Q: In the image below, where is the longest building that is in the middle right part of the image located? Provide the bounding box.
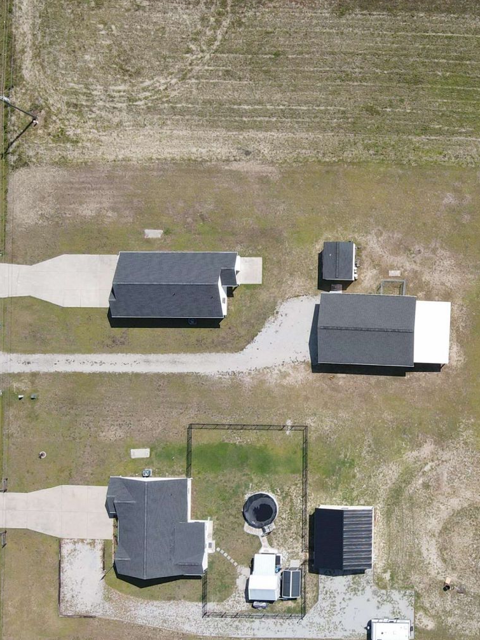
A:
[317,292,450,367]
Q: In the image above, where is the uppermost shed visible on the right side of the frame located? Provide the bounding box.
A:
[322,242,355,280]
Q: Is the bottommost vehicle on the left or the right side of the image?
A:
right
